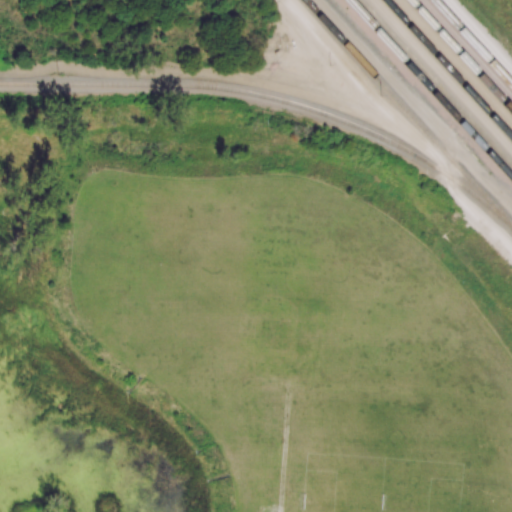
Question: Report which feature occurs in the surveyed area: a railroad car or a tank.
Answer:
railroad car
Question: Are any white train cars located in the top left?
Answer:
No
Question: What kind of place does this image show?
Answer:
sports ground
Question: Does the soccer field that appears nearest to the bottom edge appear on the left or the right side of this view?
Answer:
right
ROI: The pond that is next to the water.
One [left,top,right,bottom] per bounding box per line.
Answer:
[0,342,186,512]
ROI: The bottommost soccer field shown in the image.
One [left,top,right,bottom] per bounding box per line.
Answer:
[303,454,464,512]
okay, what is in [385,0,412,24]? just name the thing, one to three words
rail car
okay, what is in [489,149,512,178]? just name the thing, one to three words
rail car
